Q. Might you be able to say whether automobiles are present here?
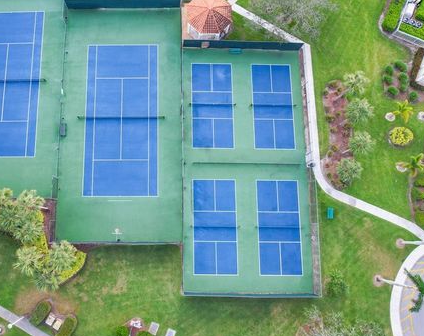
No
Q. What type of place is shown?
sports ground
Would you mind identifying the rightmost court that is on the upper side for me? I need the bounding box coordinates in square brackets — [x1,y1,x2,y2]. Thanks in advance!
[243,49,306,164]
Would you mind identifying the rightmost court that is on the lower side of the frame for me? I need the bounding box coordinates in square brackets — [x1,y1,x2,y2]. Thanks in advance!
[245,164,313,294]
